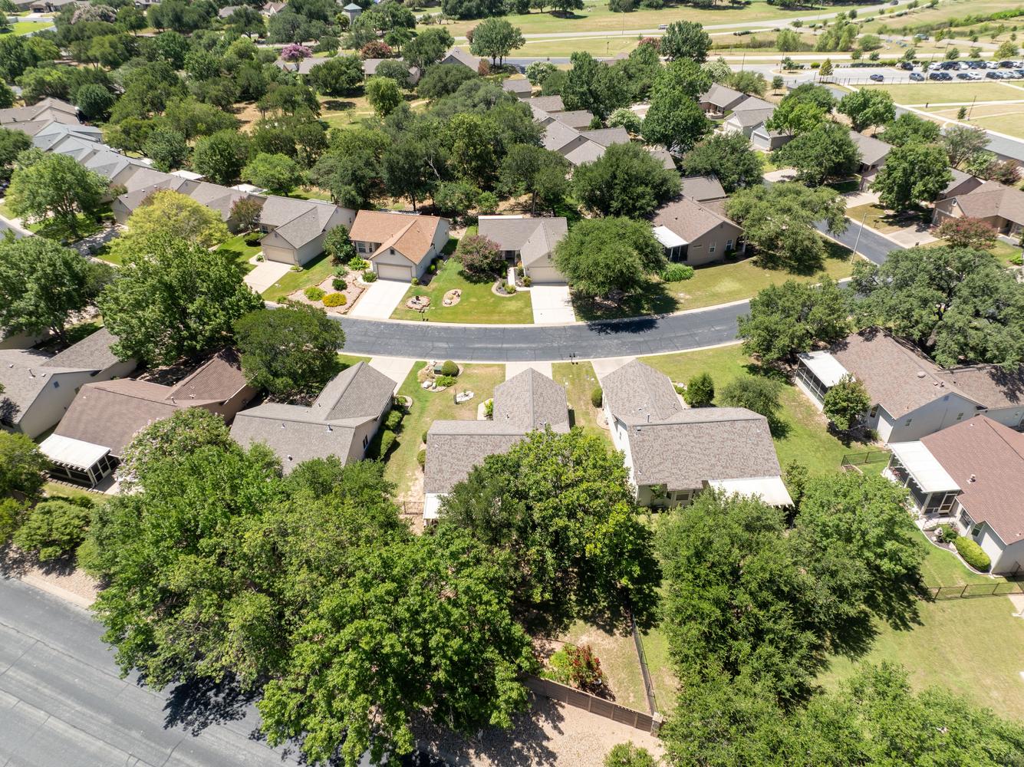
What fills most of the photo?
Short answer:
trees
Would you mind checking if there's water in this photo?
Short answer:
No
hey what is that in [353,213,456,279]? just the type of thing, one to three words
house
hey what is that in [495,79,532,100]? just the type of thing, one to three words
house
